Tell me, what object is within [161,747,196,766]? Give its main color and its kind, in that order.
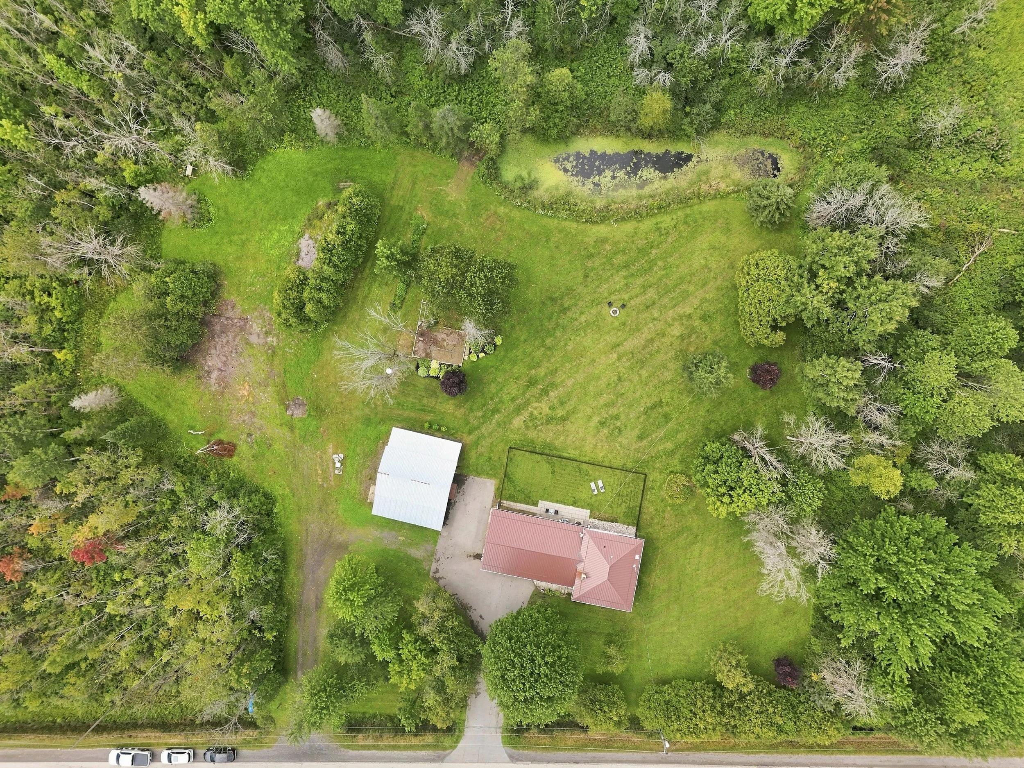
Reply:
white car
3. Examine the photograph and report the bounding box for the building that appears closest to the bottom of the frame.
[480,501,645,612]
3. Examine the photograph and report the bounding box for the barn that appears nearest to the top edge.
[372,427,462,531]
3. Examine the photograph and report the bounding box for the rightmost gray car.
[204,746,237,765]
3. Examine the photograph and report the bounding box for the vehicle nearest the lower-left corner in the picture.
[109,747,154,768]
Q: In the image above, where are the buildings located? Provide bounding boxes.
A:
[480,501,645,612]
[372,427,462,531]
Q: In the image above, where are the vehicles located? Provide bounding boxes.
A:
[109,747,154,768]
[204,746,237,765]
[161,747,196,766]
